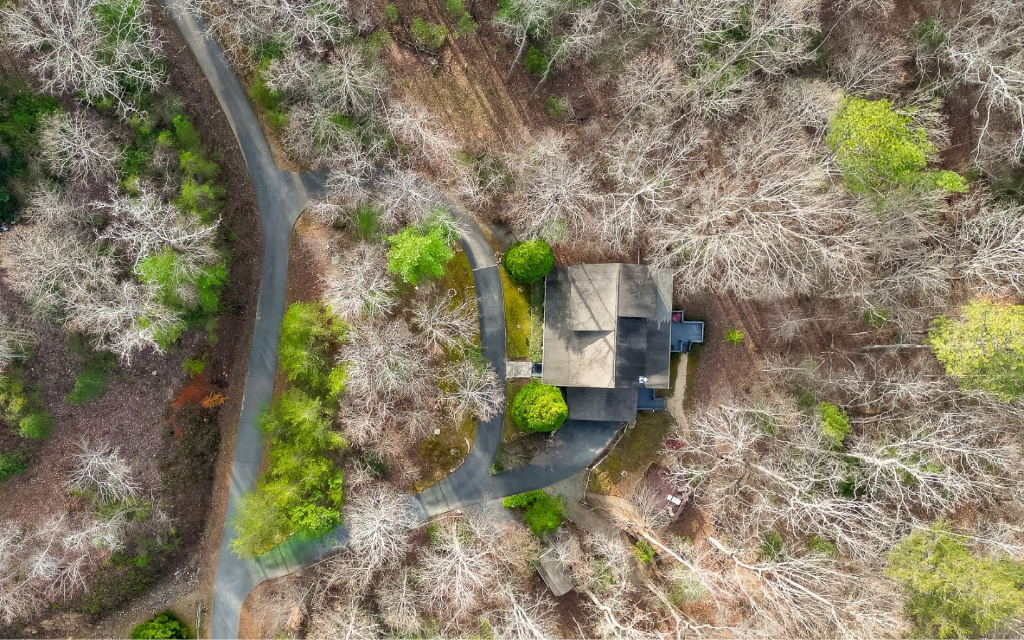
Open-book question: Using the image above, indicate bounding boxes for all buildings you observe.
[540,540,585,594]
[537,260,672,421]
